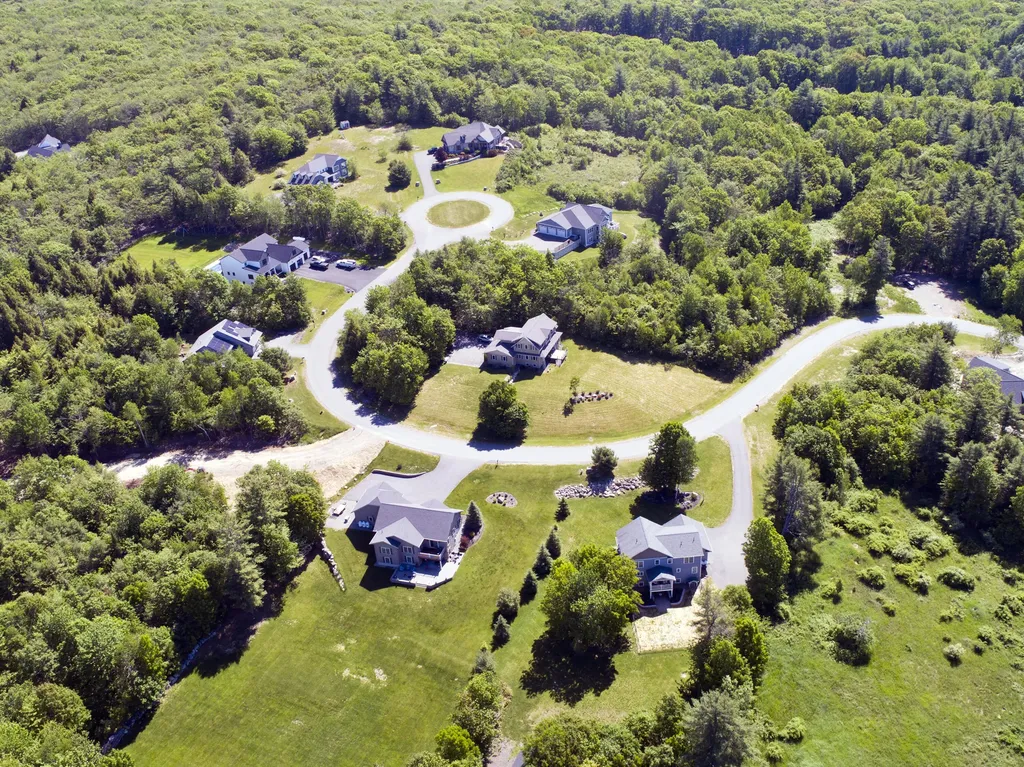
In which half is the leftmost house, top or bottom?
top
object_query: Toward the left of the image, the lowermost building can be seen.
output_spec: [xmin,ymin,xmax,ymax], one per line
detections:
[354,480,460,569]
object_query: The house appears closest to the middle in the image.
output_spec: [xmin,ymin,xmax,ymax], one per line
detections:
[483,313,572,375]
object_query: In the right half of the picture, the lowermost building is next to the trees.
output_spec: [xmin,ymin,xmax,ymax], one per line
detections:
[612,512,712,605]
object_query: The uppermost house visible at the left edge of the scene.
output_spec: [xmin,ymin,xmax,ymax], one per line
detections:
[24,137,75,168]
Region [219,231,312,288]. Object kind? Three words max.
house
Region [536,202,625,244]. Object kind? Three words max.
house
